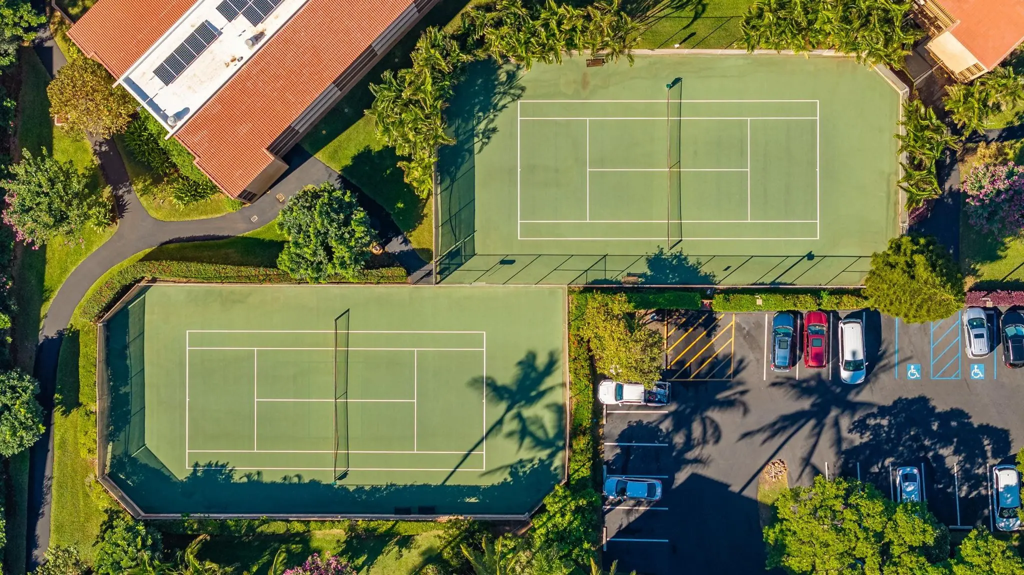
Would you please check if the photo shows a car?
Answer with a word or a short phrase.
Yes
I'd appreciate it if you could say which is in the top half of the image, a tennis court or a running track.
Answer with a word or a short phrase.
tennis court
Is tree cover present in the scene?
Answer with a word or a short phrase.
Yes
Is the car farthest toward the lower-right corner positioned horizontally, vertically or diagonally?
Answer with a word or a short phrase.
vertically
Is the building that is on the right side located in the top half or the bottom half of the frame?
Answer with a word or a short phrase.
top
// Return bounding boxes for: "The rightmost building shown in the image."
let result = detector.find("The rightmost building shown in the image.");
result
[890,0,1024,95]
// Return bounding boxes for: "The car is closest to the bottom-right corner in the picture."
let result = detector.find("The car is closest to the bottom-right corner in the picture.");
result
[991,464,1023,531]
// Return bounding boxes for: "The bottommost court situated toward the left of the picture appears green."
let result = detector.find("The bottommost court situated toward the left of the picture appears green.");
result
[107,287,566,514]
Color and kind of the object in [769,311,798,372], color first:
blue car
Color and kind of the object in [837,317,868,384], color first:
white car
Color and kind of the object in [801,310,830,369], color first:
red car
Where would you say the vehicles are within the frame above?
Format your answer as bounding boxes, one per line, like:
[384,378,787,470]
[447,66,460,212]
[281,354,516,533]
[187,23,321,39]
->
[801,310,830,369]
[895,464,925,522]
[991,464,1023,531]
[602,475,662,502]
[998,308,1024,371]
[598,378,671,408]
[960,305,990,360]
[837,317,868,384]
[769,311,798,372]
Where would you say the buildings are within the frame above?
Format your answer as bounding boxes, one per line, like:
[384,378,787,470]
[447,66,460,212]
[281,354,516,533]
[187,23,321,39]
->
[890,0,1024,95]
[63,0,440,204]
